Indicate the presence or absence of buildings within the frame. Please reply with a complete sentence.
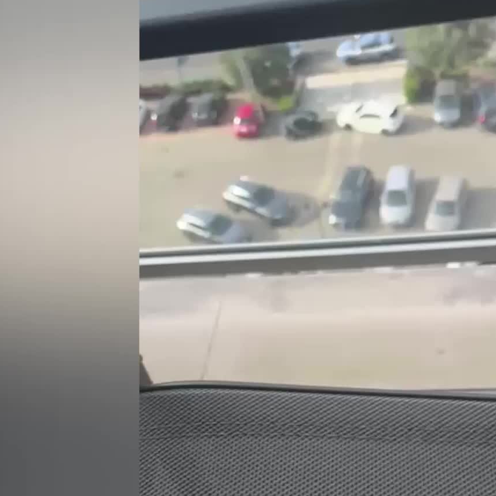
No, the frame has no building in it.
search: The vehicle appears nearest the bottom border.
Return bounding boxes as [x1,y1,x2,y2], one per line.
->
[171,205,253,245]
